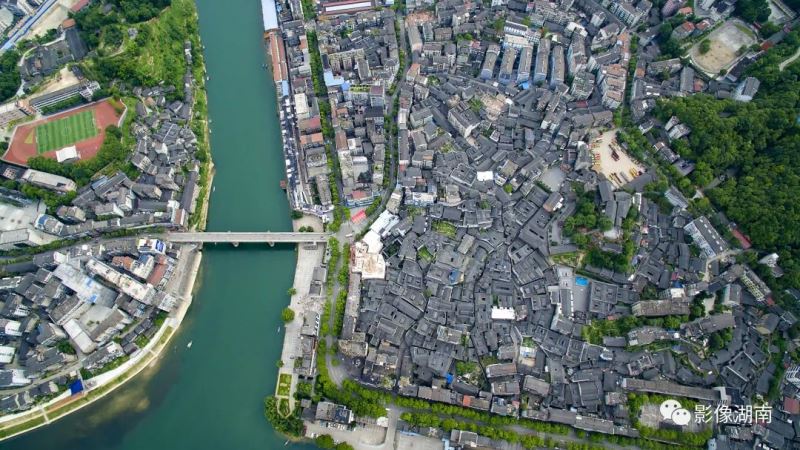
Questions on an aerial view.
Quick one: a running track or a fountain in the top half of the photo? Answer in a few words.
running track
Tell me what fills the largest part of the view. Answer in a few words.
buildings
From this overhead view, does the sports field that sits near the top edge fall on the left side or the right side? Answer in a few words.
right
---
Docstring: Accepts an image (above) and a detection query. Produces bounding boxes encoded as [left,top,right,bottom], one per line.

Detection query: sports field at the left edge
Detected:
[2,97,126,165]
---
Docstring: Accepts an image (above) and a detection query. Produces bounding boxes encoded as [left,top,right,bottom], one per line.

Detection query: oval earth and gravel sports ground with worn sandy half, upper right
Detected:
[691,16,758,73]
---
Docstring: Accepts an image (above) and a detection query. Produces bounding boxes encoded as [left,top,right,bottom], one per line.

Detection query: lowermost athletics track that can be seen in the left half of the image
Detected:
[2,97,126,165]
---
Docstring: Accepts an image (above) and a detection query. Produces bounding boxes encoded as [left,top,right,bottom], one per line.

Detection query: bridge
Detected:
[162,229,328,249]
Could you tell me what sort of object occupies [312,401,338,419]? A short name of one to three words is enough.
building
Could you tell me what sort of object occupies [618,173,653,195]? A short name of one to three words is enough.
house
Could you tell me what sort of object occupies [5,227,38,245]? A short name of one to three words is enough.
building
